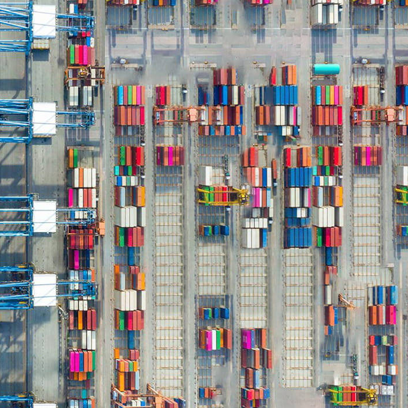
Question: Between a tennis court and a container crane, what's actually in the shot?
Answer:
container crane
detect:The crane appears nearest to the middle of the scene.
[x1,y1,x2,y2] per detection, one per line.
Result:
[196,188,249,206]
